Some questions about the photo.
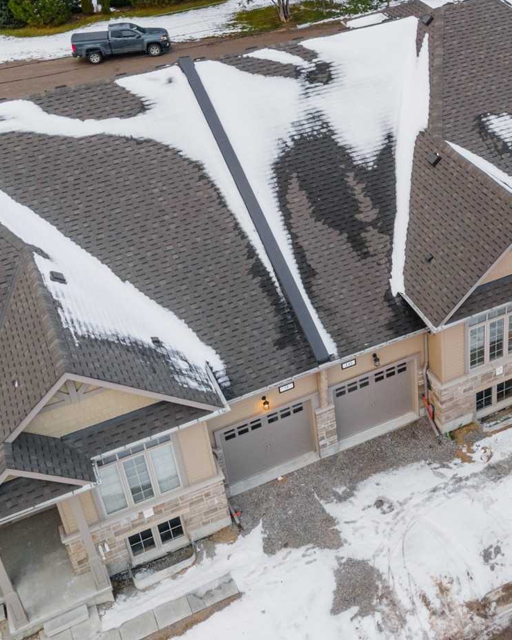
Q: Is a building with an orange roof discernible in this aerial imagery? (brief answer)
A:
No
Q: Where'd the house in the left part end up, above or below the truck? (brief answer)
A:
below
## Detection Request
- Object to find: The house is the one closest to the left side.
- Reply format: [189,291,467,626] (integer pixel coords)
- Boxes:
[0,64,340,640]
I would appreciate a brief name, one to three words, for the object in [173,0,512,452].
house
